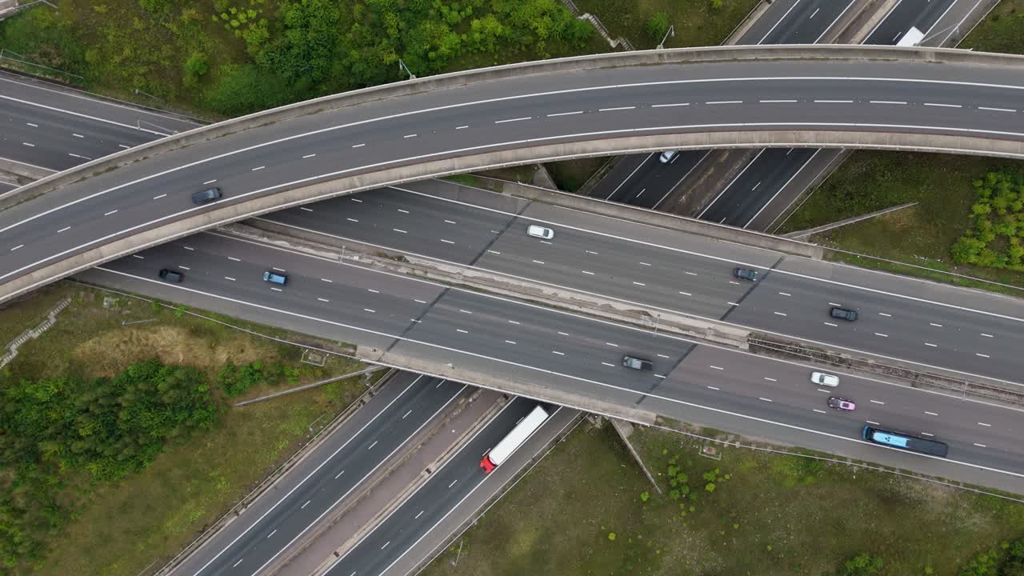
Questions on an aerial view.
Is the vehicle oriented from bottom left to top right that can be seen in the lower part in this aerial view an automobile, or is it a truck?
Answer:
truck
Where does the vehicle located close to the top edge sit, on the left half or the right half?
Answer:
right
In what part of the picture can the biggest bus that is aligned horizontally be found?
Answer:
bottom right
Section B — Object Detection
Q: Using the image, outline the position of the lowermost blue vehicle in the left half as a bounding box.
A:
[263,271,288,284]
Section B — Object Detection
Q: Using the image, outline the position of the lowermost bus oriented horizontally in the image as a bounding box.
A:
[862,423,948,456]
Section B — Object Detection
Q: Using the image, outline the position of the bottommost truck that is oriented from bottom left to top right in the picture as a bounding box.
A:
[477,402,549,474]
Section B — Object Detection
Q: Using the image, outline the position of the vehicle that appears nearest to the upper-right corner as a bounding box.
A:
[891,27,924,47]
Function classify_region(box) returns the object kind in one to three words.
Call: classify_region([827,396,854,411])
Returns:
car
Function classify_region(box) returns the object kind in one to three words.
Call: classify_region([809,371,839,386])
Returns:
car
